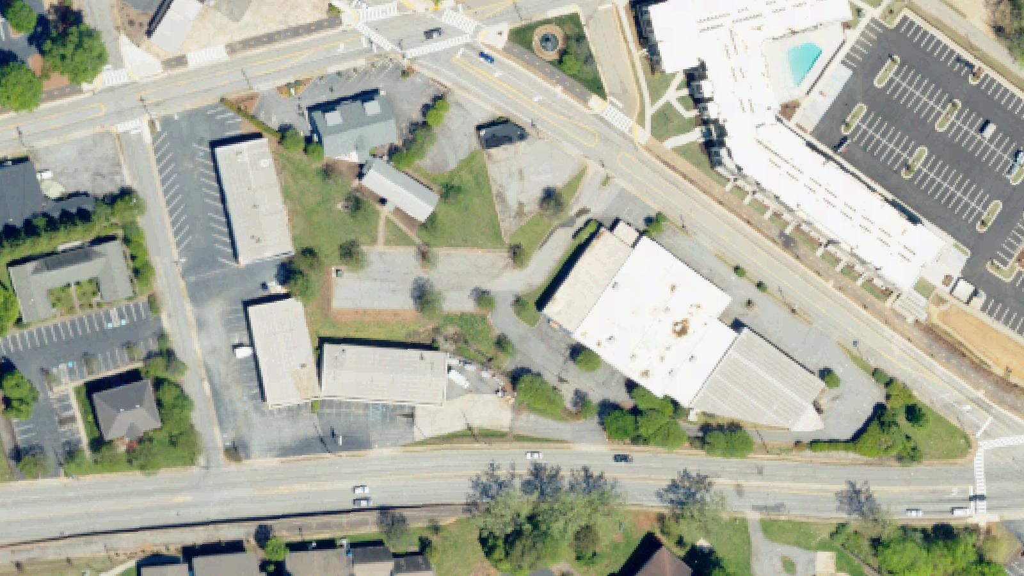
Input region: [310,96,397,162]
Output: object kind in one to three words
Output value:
building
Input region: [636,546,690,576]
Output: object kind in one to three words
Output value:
house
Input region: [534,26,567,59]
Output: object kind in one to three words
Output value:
fountain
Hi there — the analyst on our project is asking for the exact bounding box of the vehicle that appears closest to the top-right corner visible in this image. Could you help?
[982,122,995,138]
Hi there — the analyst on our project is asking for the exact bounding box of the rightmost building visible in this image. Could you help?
[950,279,974,303]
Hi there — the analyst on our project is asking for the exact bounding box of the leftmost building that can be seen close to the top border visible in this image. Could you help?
[149,0,209,55]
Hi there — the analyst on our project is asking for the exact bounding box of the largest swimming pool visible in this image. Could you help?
[786,40,825,90]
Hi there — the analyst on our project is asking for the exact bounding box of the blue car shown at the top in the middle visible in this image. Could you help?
[479,52,494,64]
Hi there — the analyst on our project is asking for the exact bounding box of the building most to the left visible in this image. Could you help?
[0,161,45,227]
